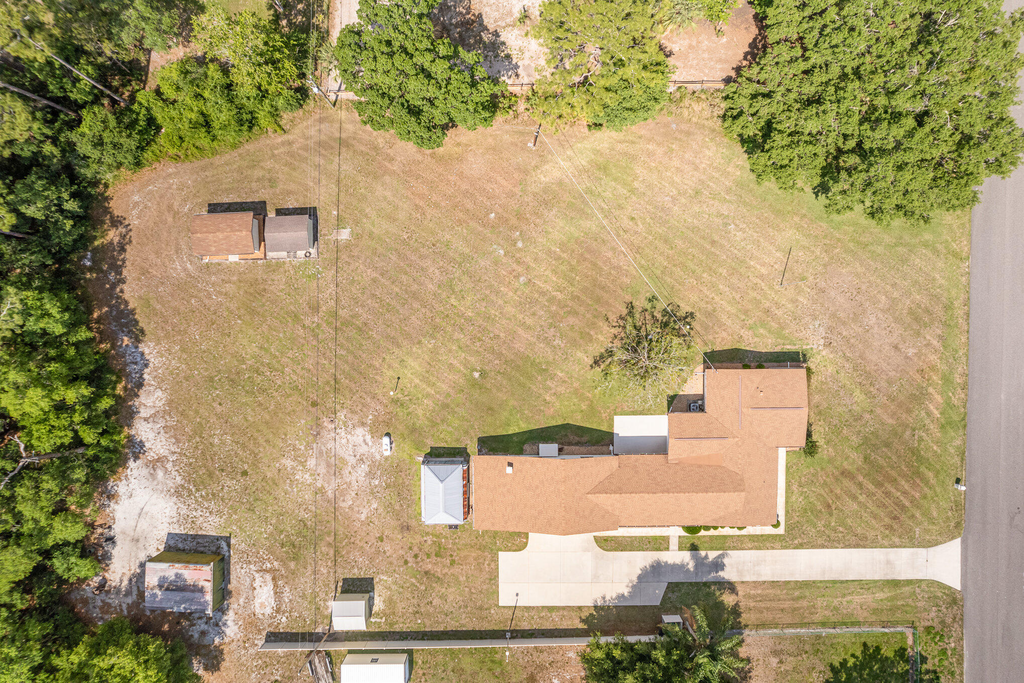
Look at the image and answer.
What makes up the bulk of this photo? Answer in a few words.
grass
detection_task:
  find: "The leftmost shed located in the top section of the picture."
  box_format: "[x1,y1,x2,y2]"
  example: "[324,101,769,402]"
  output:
[191,212,260,257]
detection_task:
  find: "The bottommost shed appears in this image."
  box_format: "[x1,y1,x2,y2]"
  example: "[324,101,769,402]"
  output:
[341,654,409,683]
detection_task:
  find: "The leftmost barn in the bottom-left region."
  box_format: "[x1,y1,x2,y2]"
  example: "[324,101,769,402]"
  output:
[145,551,226,617]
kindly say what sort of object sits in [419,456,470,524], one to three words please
shed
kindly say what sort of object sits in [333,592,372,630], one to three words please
shed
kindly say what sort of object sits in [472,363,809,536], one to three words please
house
